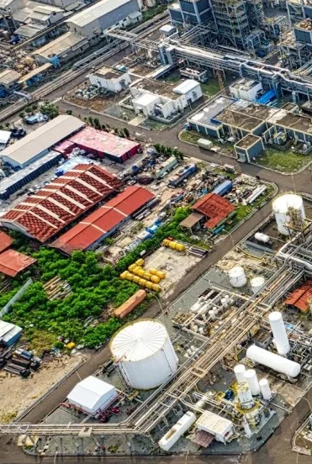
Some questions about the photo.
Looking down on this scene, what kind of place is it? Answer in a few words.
industrial area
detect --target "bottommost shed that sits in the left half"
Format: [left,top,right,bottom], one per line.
[66,376,121,419]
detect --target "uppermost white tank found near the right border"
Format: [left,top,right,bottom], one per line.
[270,188,307,235]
